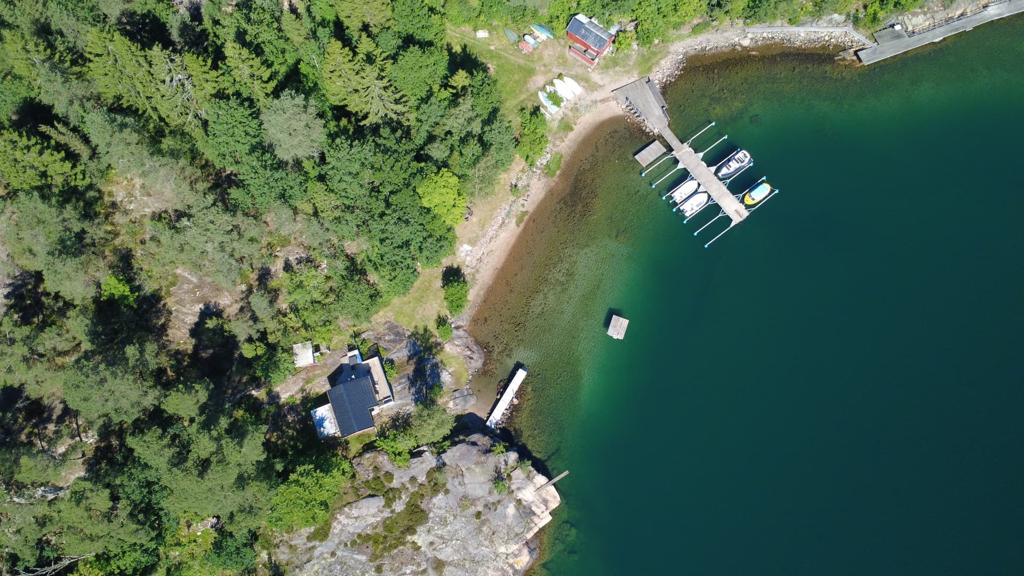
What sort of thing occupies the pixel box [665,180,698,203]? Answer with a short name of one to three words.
boat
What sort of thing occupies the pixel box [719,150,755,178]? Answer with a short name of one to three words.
boat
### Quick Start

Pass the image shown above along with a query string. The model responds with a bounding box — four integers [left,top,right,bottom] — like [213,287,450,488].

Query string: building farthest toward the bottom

[312,375,379,437]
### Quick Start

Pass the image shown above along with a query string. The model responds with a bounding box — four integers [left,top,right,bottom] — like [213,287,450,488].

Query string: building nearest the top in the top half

[567,11,615,71]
